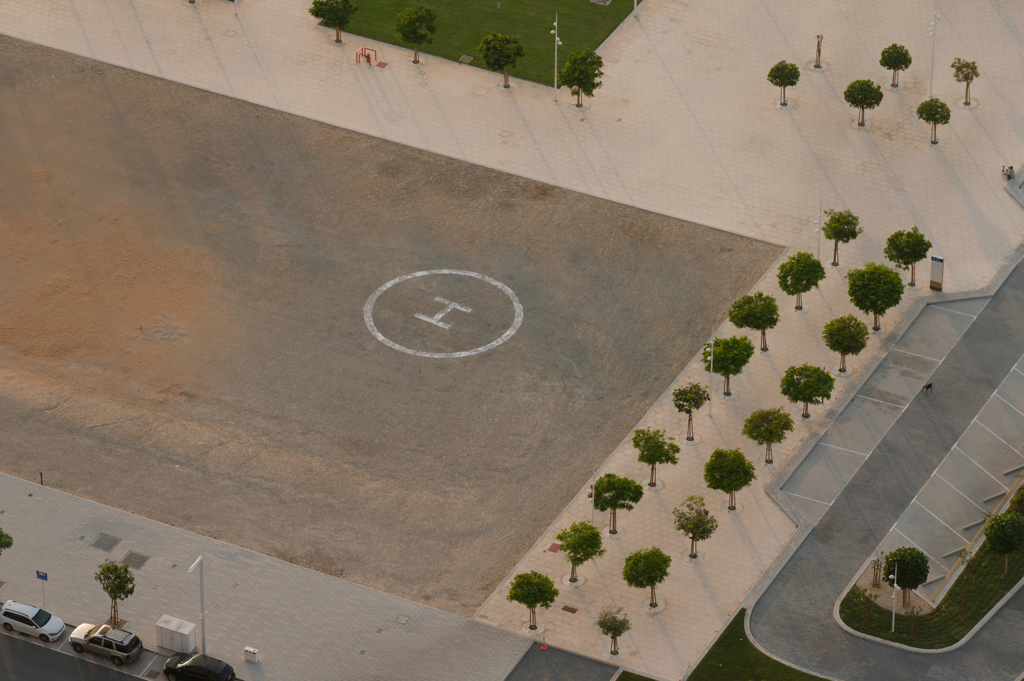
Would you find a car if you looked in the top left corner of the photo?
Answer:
No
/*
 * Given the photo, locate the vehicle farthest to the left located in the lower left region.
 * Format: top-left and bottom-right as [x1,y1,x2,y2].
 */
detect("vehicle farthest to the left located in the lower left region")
[0,598,67,643]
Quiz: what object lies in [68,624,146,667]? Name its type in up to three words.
car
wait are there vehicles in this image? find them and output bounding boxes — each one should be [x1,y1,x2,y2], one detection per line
[68,624,146,667]
[0,598,67,643]
[162,654,237,681]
